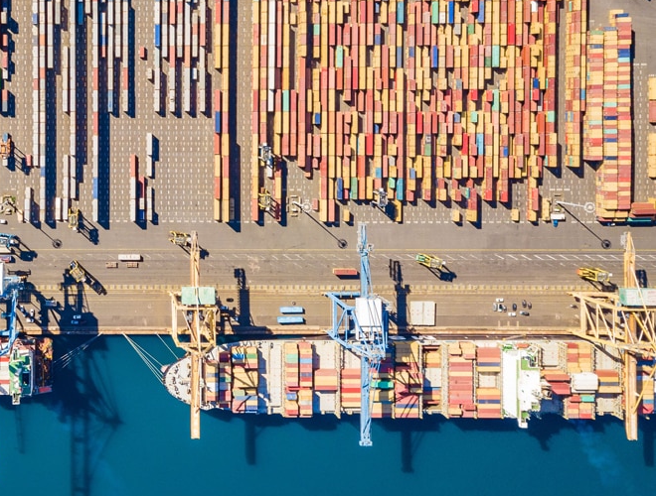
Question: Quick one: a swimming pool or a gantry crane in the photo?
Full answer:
There is a gantry crane in the scene.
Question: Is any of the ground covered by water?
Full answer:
Yes, the picture does contain water.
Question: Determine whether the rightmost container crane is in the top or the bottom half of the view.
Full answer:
The rightmost container crane sits in the bottom half of the picture.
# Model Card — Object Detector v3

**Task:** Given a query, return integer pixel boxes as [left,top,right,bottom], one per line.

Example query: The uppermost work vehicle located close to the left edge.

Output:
[0,135,13,158]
